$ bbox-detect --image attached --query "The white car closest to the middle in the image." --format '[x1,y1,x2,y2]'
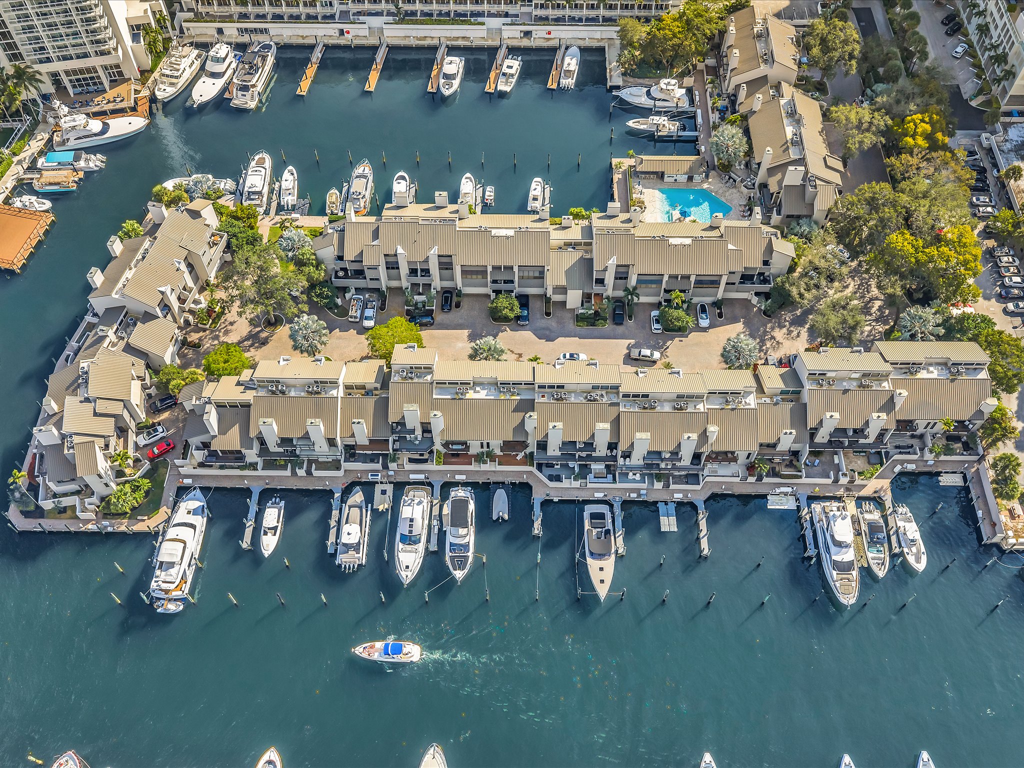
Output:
[561,351,586,363]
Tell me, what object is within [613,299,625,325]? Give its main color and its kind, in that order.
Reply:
black vehicle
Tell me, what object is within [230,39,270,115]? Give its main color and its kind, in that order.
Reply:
gray boat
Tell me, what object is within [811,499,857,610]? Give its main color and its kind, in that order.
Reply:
white boat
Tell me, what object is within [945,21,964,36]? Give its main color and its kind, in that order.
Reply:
black car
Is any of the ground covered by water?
Yes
